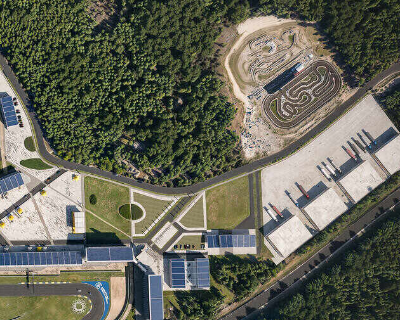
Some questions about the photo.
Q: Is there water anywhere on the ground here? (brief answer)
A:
No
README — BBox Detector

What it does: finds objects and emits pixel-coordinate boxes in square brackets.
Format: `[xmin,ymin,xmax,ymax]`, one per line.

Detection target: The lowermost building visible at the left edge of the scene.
[0,251,82,268]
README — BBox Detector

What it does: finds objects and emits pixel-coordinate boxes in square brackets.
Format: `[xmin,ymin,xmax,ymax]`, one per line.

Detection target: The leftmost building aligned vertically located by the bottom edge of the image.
[144,275,163,320]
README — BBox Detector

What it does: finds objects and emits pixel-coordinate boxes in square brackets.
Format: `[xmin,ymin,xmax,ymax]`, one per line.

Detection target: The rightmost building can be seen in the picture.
[367,133,400,176]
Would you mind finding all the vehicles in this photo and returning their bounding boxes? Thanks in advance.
[354,140,364,152]
[360,137,370,149]
[271,205,282,218]
[296,184,308,199]
[330,161,340,172]
[345,148,357,161]
[324,164,336,176]
[287,194,298,207]
[320,168,331,181]
[265,208,277,221]
[365,132,376,144]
